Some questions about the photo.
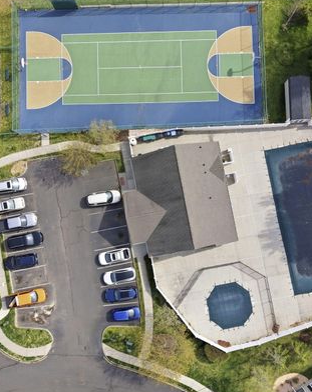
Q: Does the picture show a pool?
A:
Yes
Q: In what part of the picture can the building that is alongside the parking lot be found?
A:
center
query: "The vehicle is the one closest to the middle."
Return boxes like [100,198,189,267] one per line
[88,189,121,206]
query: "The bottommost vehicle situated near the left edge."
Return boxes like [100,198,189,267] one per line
[4,289,46,307]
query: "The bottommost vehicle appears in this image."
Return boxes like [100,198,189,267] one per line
[112,306,141,322]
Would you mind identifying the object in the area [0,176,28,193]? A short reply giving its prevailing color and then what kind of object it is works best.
white car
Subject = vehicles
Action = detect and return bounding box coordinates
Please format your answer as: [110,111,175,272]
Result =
[104,268,136,285]
[0,197,26,213]
[0,214,39,232]
[0,176,28,193]
[88,189,121,206]
[6,253,38,271]
[112,306,141,322]
[5,231,44,249]
[99,249,131,265]
[4,289,46,307]
[105,287,138,304]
